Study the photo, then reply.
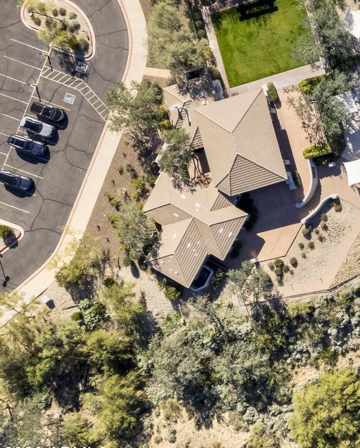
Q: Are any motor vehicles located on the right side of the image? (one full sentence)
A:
No, on the right side of the image there is no motor vehicle.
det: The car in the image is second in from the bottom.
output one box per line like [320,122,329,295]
[8,134,47,156]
